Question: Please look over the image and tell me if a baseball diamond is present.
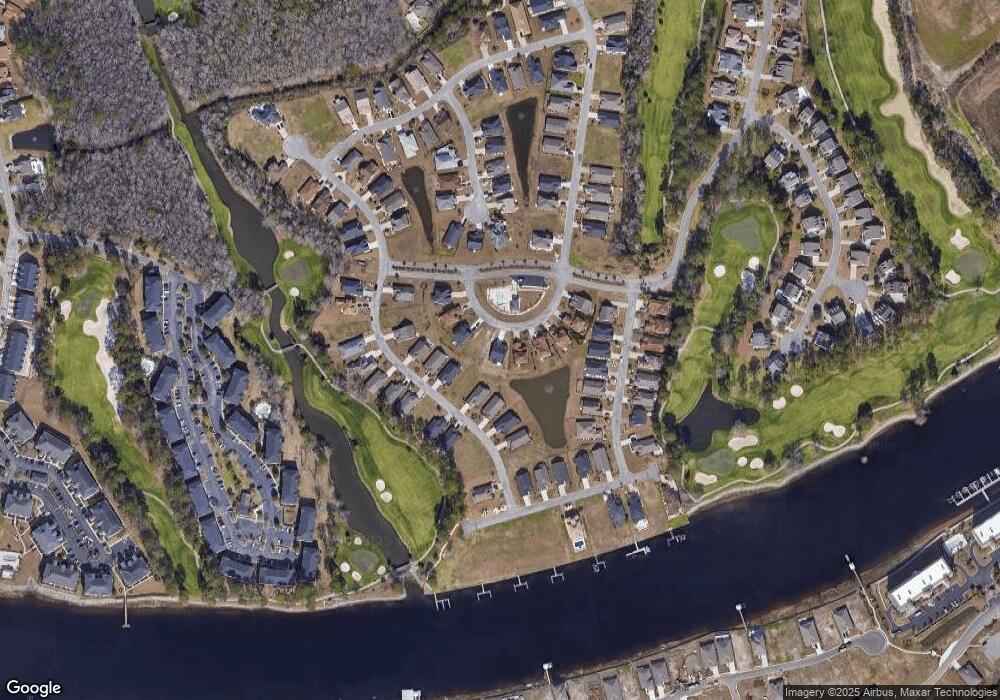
No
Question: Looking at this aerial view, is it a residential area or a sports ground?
residential area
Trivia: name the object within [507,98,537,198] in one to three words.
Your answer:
pond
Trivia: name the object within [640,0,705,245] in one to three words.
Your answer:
golf course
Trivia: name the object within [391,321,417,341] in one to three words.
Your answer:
house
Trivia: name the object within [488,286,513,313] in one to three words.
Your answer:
swimming pool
